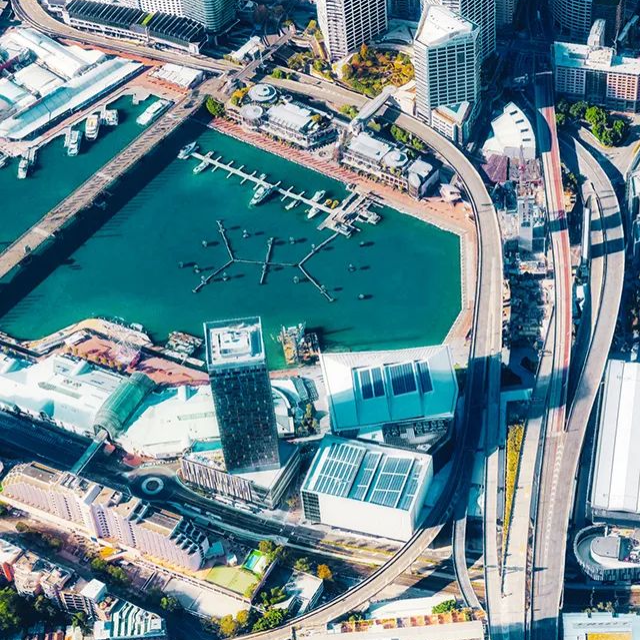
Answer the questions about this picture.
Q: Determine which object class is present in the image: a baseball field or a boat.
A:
boat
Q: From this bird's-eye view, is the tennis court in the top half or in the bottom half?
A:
bottom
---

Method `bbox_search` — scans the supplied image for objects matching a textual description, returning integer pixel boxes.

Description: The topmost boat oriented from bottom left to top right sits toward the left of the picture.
[138,96,164,126]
